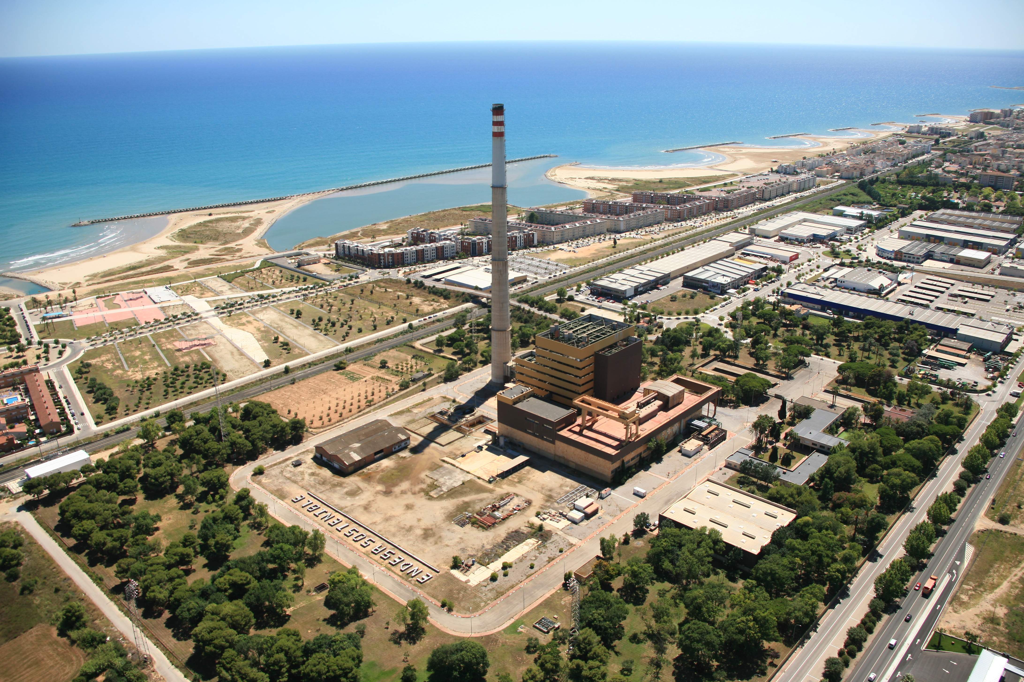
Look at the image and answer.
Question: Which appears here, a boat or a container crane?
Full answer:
There is a container crane in the scene.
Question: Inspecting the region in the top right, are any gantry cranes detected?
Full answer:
No, no gantry crane is visible in the top right.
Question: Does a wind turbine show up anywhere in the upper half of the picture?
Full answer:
No, there is no wind turbine in the upper half of the picture.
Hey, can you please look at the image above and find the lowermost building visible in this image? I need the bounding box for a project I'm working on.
[574,555,601,585]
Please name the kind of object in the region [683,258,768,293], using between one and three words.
building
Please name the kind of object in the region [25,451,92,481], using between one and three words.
shed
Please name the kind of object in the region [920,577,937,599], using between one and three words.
vehicle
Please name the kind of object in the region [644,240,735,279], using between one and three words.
building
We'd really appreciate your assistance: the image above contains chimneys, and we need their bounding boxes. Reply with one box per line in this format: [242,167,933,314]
[489,102,511,385]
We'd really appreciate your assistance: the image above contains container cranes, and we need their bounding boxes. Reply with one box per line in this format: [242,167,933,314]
[574,387,645,446]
